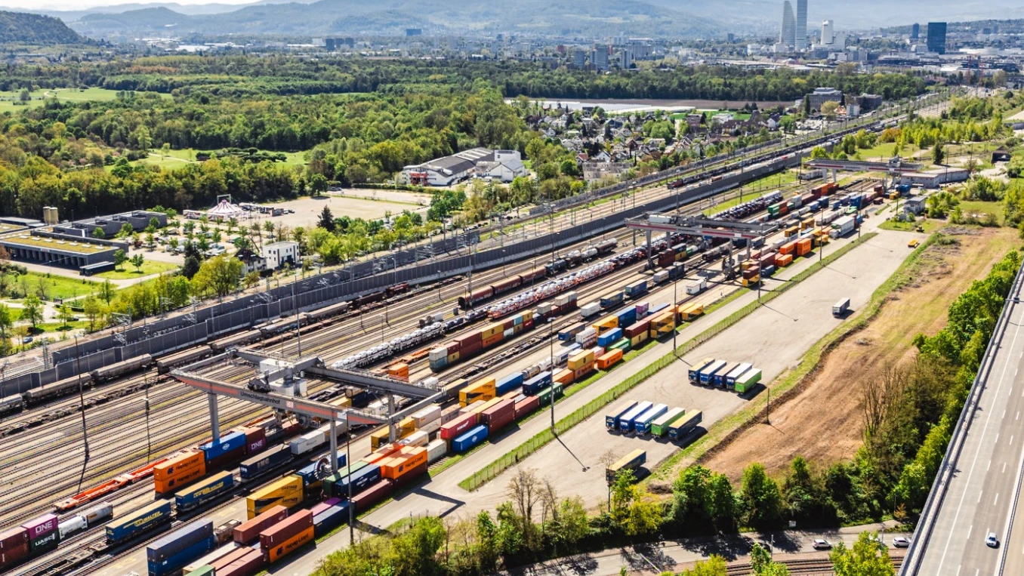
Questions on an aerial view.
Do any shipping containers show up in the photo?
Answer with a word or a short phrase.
Yes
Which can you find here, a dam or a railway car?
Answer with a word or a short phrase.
railway car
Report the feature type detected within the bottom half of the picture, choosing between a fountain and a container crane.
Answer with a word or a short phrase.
container crane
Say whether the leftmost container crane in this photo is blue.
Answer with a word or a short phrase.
No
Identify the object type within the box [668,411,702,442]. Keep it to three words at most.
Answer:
trailer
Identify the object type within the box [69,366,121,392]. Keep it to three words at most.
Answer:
rail car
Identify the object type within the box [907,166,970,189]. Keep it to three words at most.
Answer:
building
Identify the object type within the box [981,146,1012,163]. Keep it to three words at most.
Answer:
barn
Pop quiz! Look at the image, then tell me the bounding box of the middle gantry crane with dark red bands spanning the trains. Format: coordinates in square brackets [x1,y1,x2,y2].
[612,211,787,279]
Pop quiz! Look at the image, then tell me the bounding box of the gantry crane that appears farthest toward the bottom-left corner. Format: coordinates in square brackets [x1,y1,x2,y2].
[163,350,442,480]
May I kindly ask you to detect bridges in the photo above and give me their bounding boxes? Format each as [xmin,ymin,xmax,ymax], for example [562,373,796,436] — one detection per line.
[899,307,1024,576]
